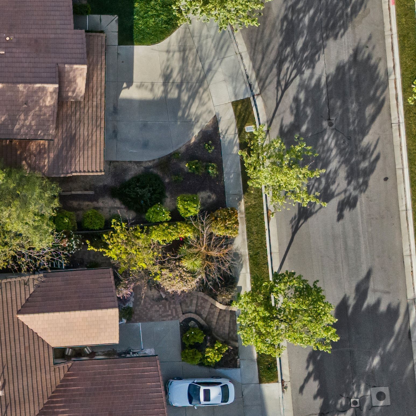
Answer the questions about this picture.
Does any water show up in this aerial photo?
No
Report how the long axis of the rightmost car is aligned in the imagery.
from side to side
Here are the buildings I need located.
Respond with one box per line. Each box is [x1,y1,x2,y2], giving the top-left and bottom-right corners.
[0,264,169,416]
[0,0,107,178]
